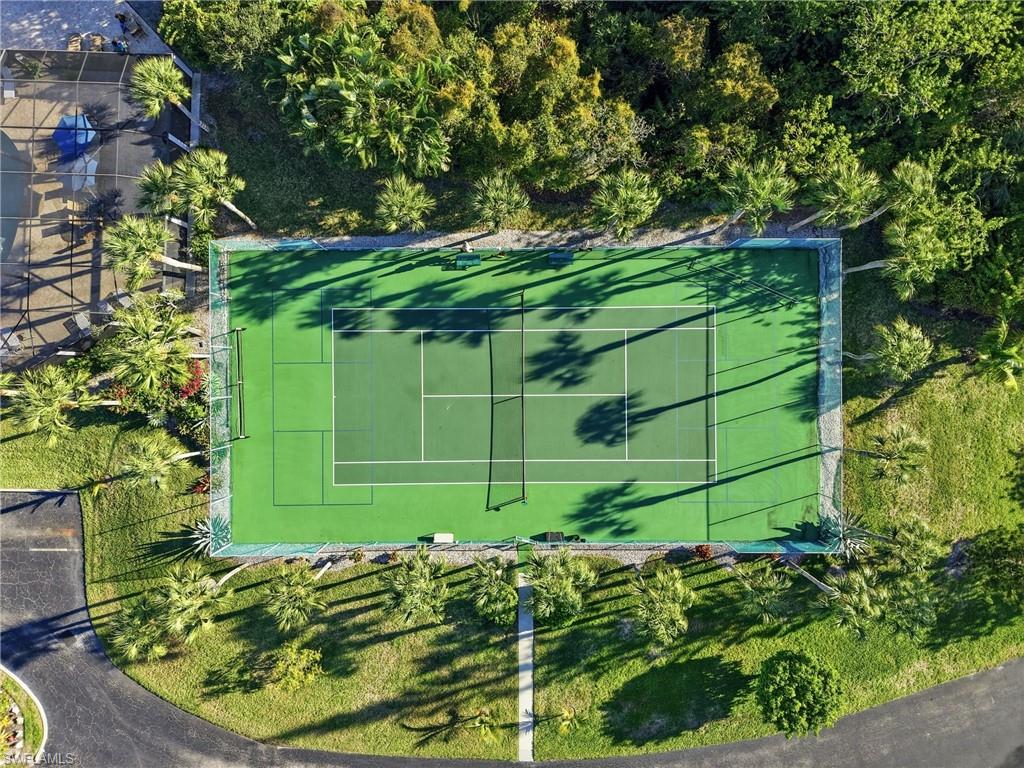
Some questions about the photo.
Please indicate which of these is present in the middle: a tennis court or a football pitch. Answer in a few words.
tennis court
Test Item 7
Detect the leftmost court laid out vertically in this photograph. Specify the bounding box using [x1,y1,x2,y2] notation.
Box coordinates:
[272,289,373,506]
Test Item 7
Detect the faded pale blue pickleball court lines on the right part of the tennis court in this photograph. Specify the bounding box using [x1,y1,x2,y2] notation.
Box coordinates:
[676,287,778,502]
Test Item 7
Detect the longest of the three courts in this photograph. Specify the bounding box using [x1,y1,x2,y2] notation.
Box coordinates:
[230,247,820,544]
